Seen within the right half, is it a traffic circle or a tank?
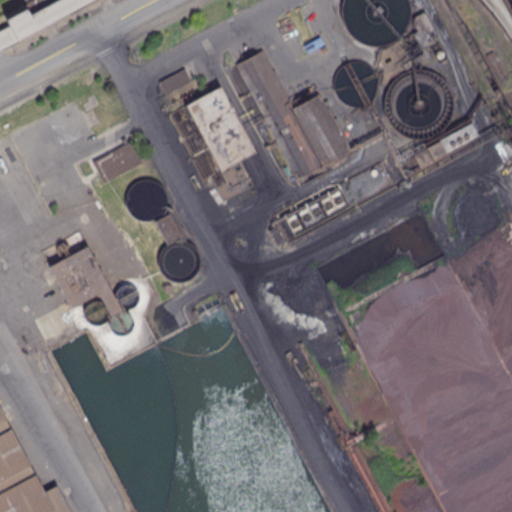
tank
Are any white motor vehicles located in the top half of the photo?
Yes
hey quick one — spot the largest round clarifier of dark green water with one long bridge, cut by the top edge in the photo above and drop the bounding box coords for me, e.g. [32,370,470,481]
[342,0,412,48]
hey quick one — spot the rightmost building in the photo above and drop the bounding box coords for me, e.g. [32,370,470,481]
[442,126,479,154]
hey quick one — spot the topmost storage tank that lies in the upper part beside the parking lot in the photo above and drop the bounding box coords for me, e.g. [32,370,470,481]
[126,180,168,221]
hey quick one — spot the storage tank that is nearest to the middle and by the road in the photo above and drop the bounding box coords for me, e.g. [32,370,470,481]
[160,243,198,282]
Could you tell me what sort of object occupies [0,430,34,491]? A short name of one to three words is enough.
building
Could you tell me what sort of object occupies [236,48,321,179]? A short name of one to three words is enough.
building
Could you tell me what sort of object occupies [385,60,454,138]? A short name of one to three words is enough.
storage tank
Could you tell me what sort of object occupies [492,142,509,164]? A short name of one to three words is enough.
vehicle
